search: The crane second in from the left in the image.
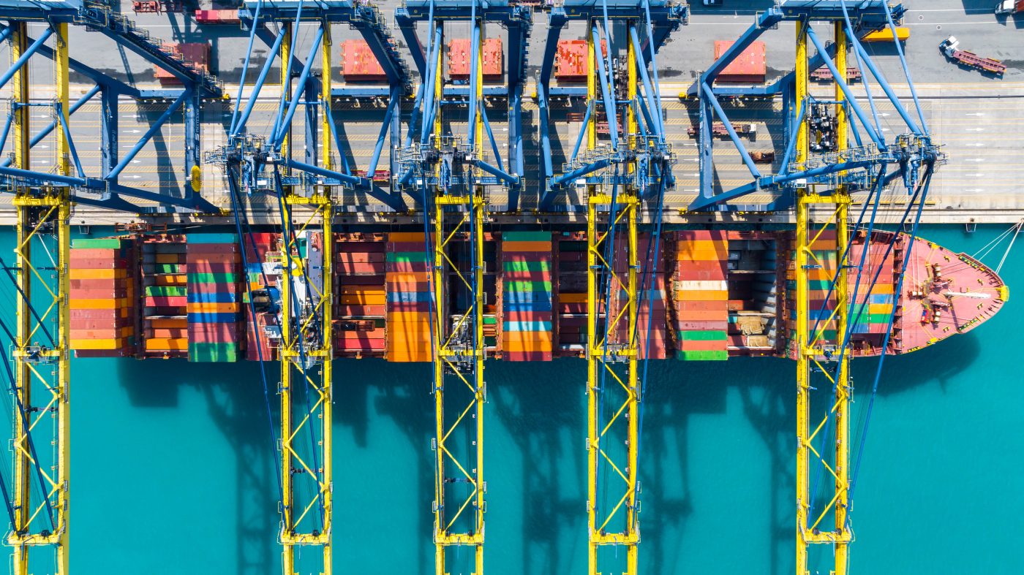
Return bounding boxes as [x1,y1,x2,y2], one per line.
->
[203,0,420,575]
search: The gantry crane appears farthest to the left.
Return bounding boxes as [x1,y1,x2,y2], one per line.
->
[0,0,238,575]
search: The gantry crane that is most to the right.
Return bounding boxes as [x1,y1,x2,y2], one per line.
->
[673,0,960,575]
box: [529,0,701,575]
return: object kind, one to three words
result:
container crane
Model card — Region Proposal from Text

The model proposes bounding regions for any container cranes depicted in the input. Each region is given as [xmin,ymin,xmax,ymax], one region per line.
[0,0,238,575]
[529,0,701,575]
[673,0,960,575]
[203,0,420,575]
[374,0,544,575]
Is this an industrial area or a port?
port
